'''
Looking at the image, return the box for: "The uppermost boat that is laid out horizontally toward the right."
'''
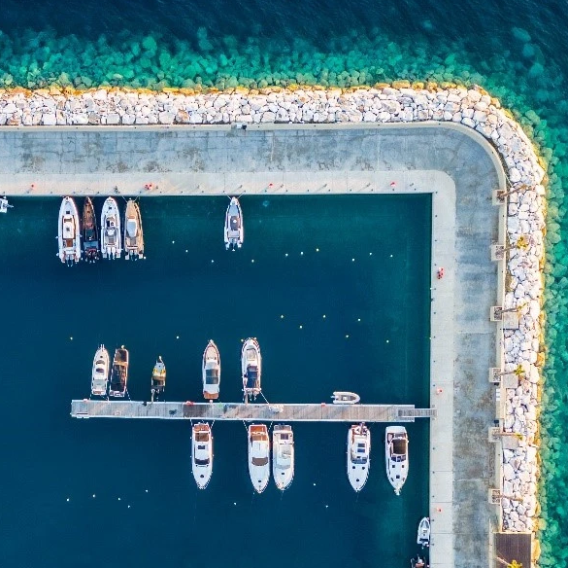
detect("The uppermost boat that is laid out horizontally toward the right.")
[329,392,361,404]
